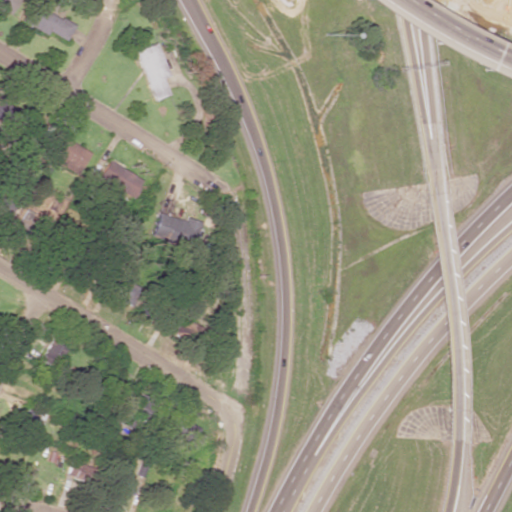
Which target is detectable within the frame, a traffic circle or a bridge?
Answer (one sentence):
Of the two, only a bridge appears.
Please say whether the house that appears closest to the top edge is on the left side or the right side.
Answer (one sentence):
You can find the house that appears closest to the top edge on the left side of the picture.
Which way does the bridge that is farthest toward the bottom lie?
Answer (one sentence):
The bridge that is farthest toward the bottom runs up and down in the image.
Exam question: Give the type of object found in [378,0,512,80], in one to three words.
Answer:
overpass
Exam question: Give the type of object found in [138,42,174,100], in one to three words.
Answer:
house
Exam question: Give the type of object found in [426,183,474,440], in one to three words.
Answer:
bridge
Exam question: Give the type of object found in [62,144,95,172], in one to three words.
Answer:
house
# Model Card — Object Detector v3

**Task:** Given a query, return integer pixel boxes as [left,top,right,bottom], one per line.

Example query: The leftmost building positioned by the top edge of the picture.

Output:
[36,12,78,42]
